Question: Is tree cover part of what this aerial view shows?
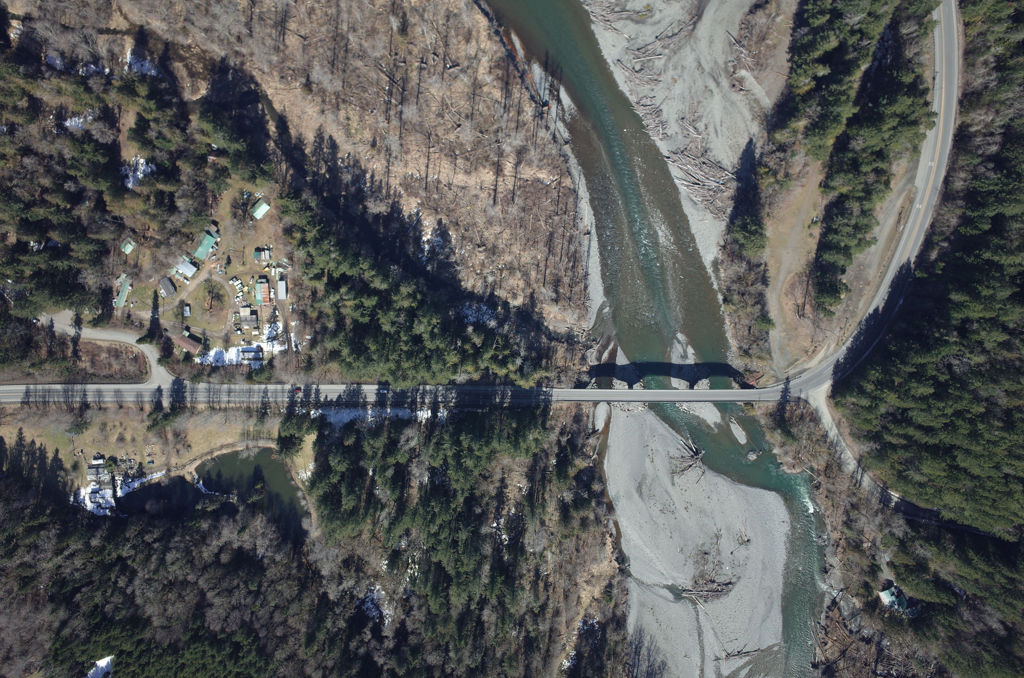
Yes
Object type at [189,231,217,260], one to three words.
building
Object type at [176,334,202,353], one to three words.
house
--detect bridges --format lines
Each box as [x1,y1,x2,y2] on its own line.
[575,384,742,402]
